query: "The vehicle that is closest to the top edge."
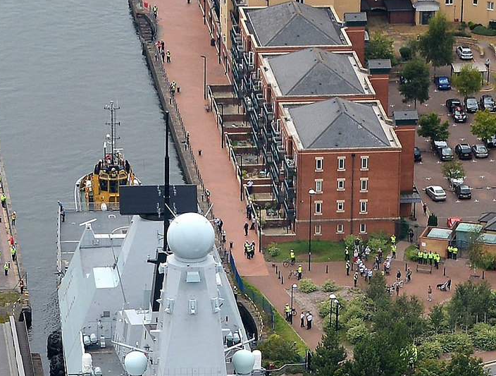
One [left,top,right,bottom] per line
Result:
[454,46,475,60]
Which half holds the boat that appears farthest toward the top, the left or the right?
left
